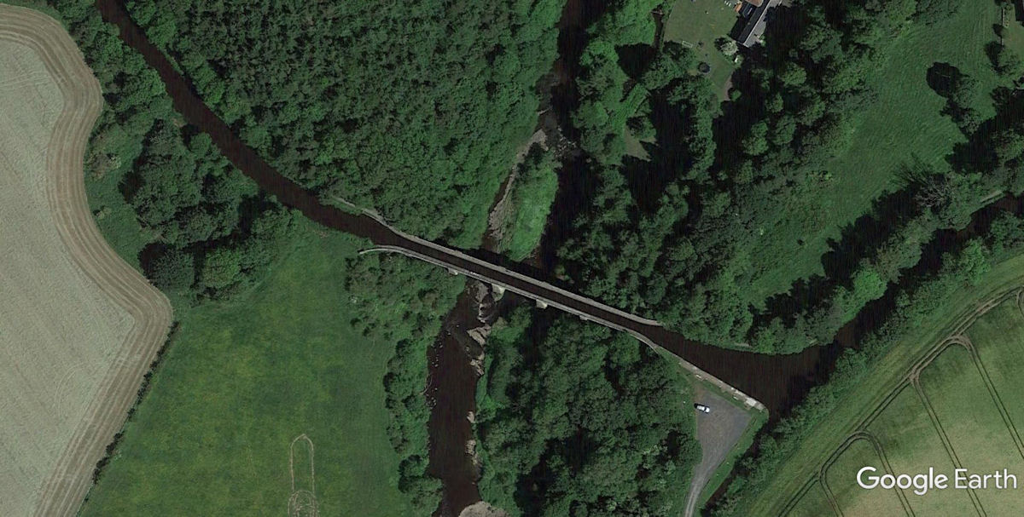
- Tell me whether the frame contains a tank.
No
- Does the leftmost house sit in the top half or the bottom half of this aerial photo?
top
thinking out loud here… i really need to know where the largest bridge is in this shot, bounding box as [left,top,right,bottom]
[360,210,663,356]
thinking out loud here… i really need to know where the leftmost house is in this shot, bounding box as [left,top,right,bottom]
[738,0,779,48]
